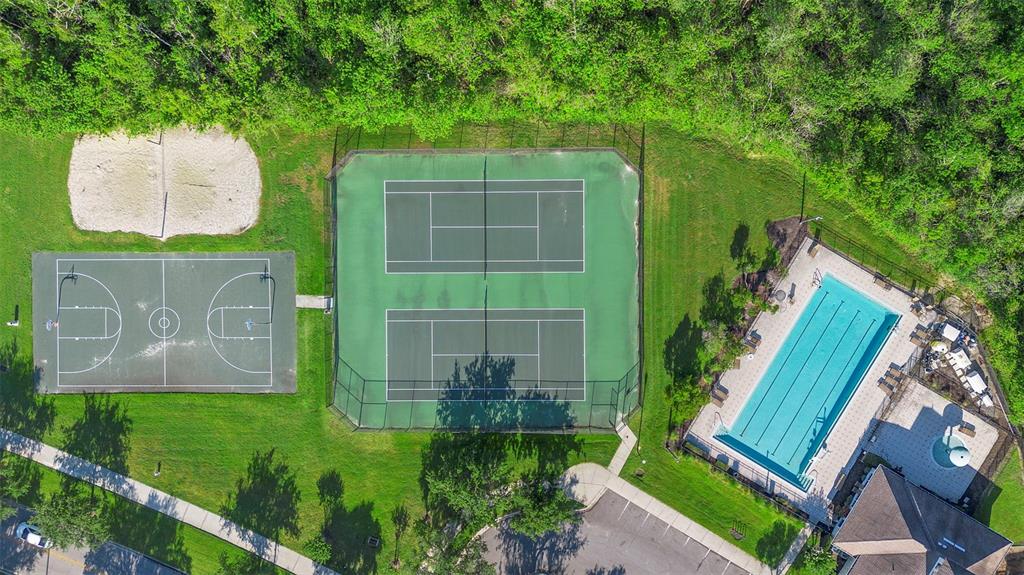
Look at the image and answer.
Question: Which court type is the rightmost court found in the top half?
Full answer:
I'd say the rightmost court found in the top half is a tennis court.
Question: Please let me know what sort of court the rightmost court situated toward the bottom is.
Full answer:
The rightmost court situated toward the bottom in the image is a tennis court.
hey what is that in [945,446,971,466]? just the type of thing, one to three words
fountain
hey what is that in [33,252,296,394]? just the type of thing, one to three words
basketball court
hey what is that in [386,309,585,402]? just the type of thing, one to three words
tennis court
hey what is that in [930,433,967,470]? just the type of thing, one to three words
swimming pool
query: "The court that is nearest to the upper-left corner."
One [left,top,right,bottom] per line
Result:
[68,123,261,240]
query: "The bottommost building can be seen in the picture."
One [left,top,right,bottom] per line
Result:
[828,464,1015,575]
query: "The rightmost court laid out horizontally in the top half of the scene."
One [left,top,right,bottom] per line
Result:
[385,180,585,273]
